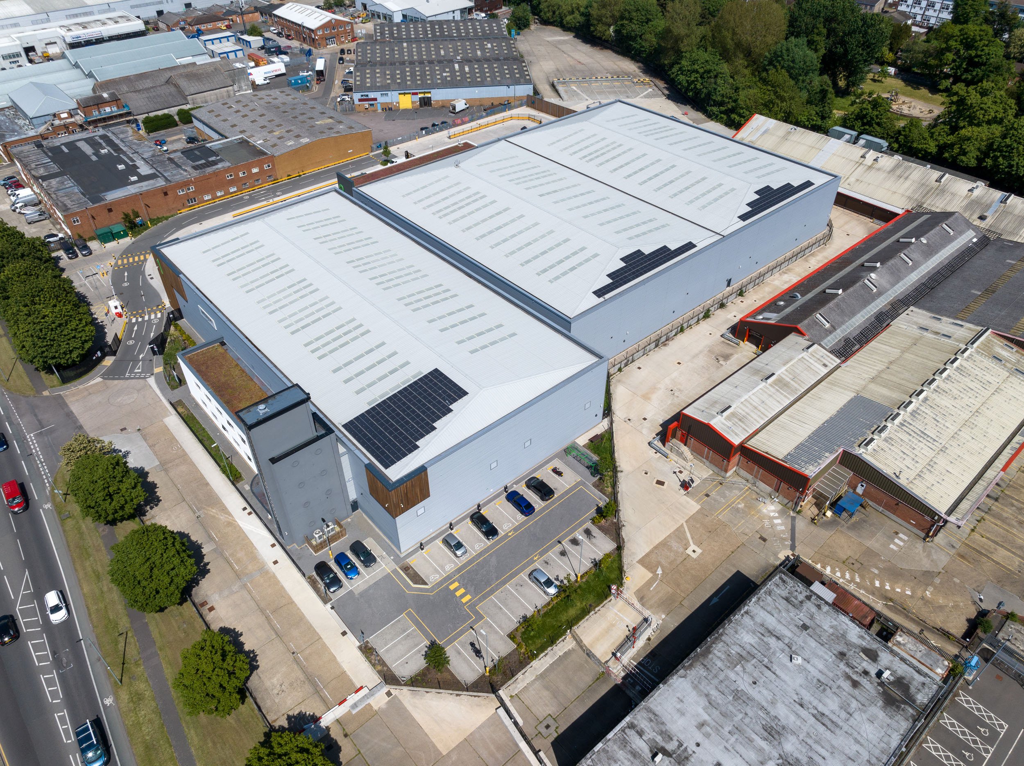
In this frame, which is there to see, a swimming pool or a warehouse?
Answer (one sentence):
There is a warehouse in the scene.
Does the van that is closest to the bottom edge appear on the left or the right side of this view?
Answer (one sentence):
The van that is closest to the bottom edge appears in the left half of the scene.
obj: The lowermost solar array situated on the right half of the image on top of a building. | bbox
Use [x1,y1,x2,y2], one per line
[591,239,697,298]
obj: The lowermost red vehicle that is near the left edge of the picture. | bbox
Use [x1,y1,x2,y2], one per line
[1,478,28,514]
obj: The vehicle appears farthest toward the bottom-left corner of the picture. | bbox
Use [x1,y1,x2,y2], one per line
[73,717,108,766]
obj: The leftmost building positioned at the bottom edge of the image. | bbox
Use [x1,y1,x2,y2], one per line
[577,567,945,766]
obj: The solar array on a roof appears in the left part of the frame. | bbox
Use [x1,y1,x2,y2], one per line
[342,367,469,469]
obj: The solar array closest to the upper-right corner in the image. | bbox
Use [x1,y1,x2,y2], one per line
[736,178,815,221]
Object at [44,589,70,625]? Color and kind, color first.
white car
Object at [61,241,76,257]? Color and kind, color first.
black car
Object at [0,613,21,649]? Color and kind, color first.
black car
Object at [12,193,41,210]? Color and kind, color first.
gray vehicle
